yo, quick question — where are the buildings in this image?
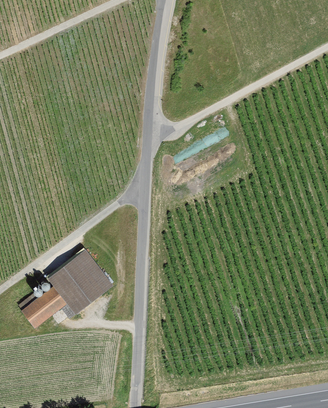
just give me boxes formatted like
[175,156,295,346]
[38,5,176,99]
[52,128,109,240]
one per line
[48,248,112,314]
[22,286,66,328]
